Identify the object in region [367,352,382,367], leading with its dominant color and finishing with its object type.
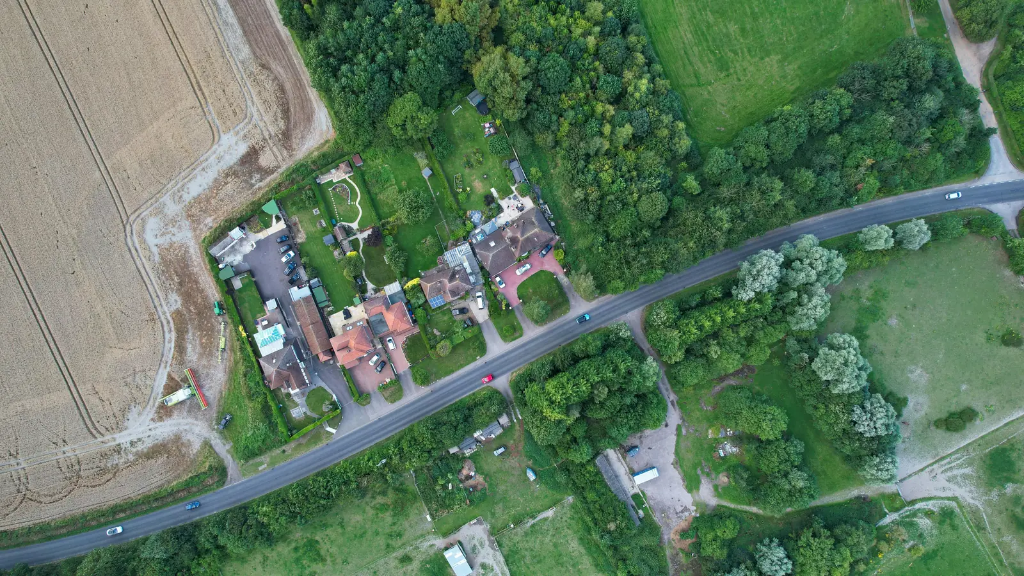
white car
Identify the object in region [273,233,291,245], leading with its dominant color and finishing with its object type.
blue vehicle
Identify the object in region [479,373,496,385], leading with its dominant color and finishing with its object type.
red vehicle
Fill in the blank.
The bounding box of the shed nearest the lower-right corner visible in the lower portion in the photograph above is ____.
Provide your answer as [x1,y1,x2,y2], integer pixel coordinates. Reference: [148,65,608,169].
[596,455,640,525]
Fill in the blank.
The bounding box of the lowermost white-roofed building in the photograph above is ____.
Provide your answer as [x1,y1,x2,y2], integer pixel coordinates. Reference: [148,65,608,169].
[444,541,472,576]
